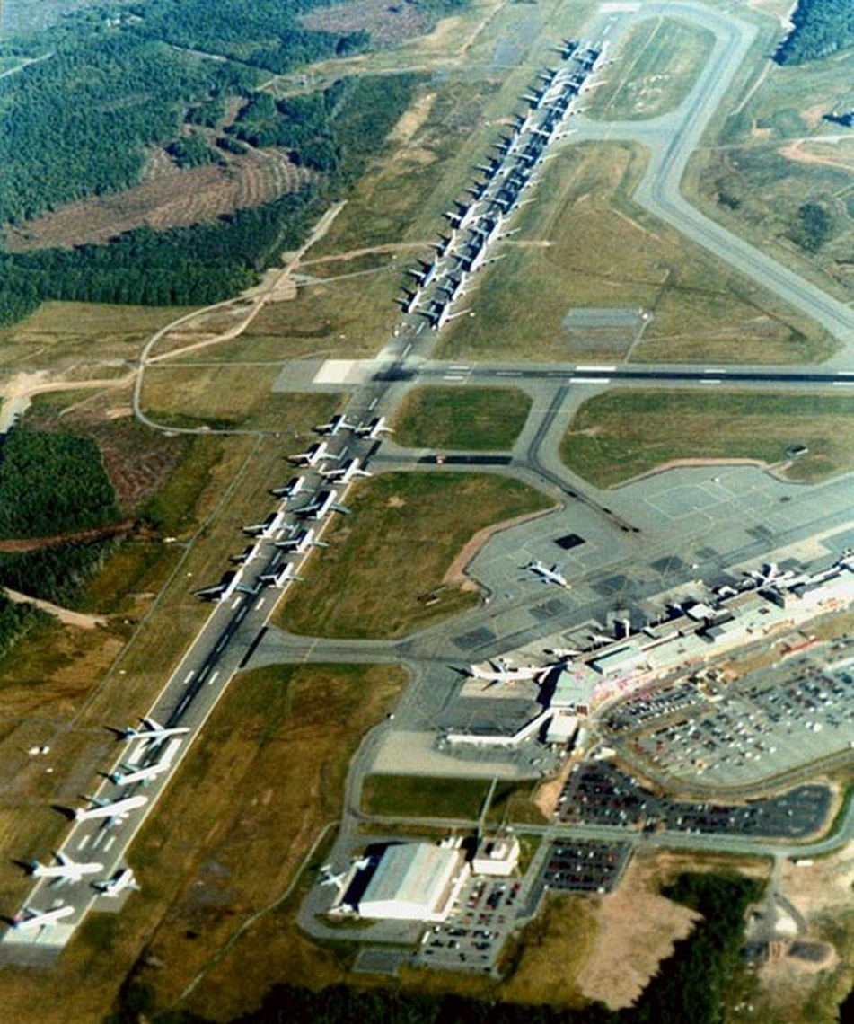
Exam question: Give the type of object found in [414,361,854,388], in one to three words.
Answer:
runway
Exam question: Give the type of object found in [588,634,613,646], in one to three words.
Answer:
airplane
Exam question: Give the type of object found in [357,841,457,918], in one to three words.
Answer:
hangar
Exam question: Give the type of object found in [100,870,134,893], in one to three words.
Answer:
airplane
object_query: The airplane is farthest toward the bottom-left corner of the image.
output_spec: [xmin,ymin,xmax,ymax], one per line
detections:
[11,905,74,931]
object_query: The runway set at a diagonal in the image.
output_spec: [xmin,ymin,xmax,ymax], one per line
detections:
[2,3,647,945]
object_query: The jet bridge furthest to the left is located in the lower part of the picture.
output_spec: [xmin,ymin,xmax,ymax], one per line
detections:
[536,661,560,674]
